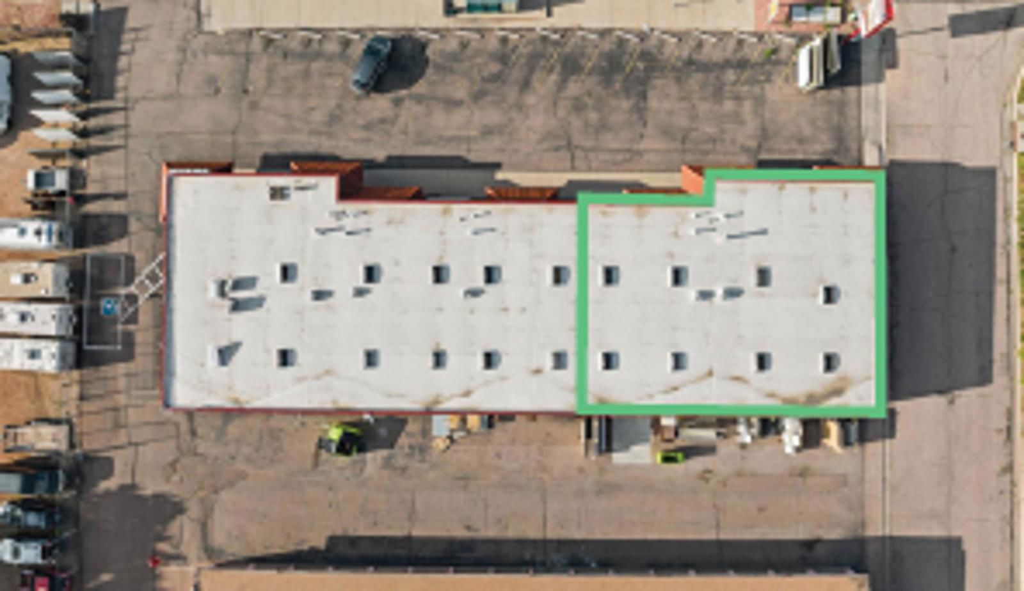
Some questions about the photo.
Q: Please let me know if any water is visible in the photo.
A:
No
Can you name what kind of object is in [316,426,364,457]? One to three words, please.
work vehicle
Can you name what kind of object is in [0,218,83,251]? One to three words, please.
trailer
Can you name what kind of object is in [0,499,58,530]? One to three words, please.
truck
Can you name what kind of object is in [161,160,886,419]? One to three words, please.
building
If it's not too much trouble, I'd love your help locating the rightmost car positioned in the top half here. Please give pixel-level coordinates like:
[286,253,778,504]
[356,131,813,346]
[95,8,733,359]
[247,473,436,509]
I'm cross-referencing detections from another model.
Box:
[353,32,397,95]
